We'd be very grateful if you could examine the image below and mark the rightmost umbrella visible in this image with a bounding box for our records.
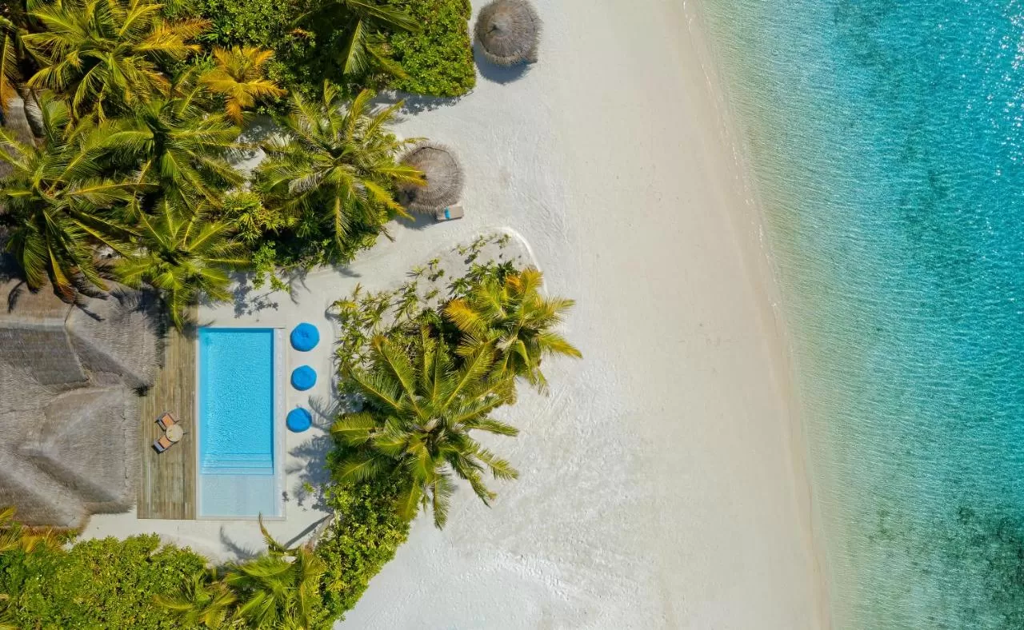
[476,0,543,67]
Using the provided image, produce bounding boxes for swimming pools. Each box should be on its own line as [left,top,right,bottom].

[195,324,286,521]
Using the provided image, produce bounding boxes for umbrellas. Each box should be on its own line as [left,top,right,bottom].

[476,0,543,67]
[400,146,468,215]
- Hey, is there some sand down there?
Yes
